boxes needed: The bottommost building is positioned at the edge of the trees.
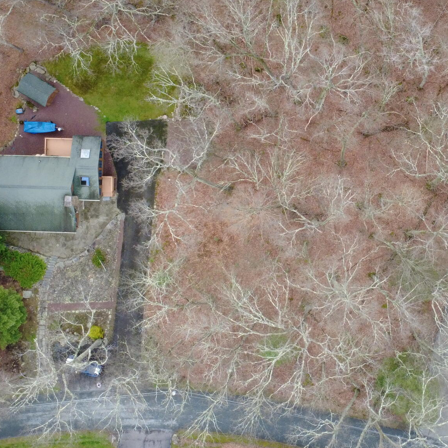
[0,136,122,234]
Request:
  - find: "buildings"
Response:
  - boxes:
[0,136,122,234]
[17,73,63,106]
